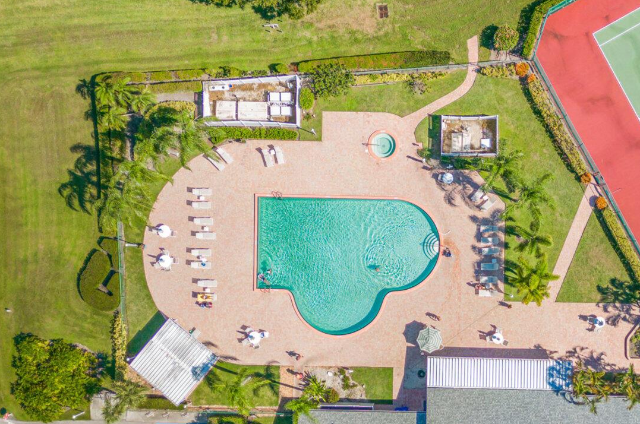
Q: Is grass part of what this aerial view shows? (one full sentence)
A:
Yes, some grass is visible.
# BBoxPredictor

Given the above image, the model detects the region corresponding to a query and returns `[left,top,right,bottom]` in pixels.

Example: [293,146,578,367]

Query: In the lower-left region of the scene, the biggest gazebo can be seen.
[128,318,220,406]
